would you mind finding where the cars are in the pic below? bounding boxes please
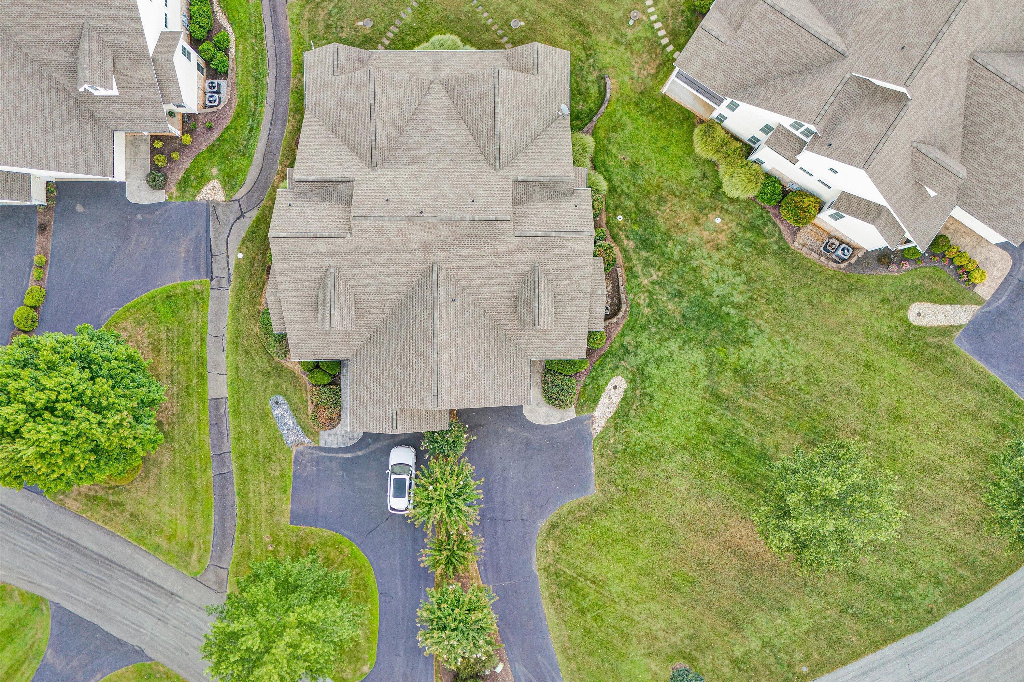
[385,445,419,514]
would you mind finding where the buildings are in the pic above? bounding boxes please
[0,0,197,211]
[662,0,1024,257]
[267,42,607,435]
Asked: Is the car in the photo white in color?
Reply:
Yes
